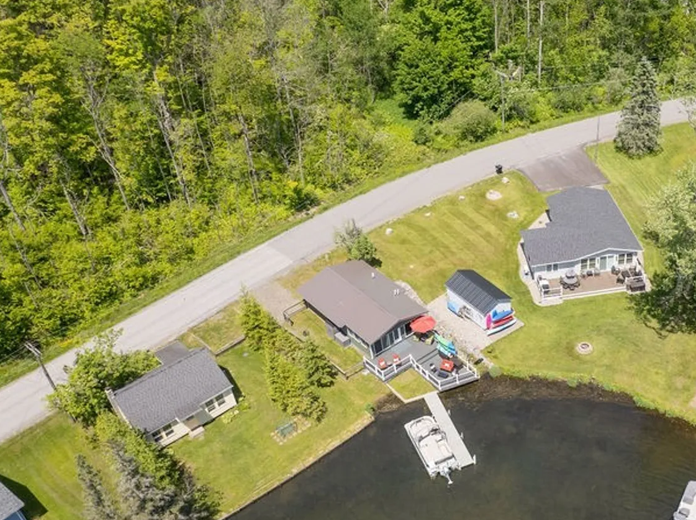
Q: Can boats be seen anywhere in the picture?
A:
Yes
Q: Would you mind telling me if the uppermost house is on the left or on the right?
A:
right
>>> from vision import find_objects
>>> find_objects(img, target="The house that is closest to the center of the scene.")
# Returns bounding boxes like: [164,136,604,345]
[300,261,429,360]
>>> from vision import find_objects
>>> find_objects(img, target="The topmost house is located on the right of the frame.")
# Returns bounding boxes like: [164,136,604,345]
[517,185,646,282]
